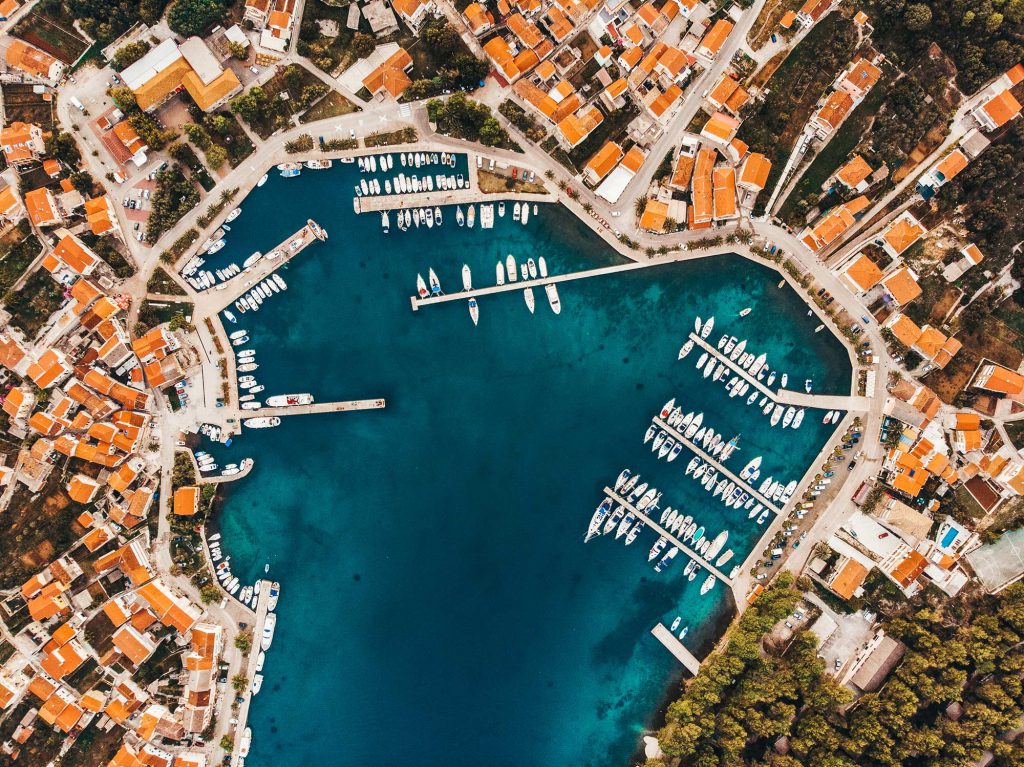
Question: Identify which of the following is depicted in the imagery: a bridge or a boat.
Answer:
boat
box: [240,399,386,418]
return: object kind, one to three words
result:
pier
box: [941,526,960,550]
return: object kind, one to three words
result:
swimming pool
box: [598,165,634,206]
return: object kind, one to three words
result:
building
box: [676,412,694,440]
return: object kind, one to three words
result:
boat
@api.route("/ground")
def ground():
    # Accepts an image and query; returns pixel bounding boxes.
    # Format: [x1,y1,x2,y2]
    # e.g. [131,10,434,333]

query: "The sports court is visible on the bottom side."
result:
[966,523,1024,592]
